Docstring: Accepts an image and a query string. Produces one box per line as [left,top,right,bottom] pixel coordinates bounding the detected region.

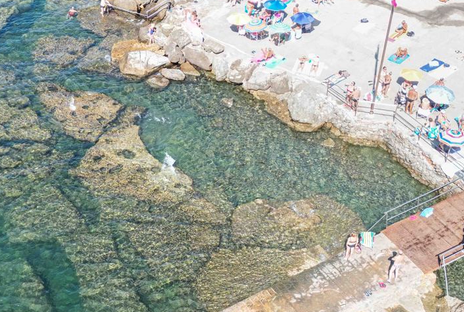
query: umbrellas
[400,69,423,98]
[269,22,291,49]
[264,0,288,23]
[291,12,314,40]
[228,12,251,31]
[245,20,267,44]
[437,128,464,161]
[426,85,455,118]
